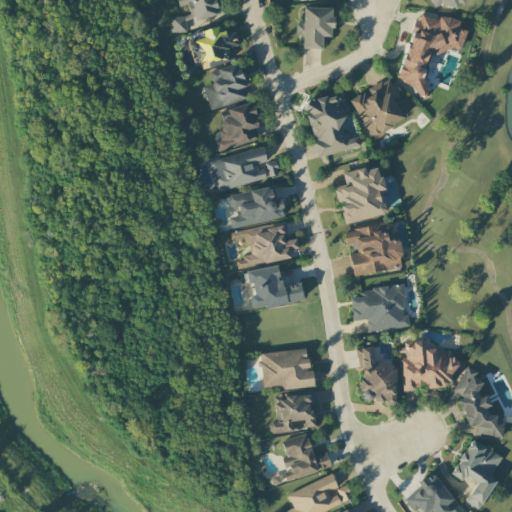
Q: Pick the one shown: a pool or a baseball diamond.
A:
pool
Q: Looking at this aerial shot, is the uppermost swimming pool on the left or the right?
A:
right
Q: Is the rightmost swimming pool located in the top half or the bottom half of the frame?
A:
bottom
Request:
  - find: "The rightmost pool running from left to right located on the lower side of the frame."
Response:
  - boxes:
[421,330,460,349]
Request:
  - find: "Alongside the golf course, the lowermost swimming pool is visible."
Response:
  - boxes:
[486,372,512,422]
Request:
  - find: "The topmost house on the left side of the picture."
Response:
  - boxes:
[172,0,222,34]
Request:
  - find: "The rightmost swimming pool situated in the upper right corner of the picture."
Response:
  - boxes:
[426,50,462,90]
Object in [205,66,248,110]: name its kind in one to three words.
house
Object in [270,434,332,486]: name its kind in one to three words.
house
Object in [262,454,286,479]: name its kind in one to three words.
swimming pool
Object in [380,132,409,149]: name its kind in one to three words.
swimming pool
